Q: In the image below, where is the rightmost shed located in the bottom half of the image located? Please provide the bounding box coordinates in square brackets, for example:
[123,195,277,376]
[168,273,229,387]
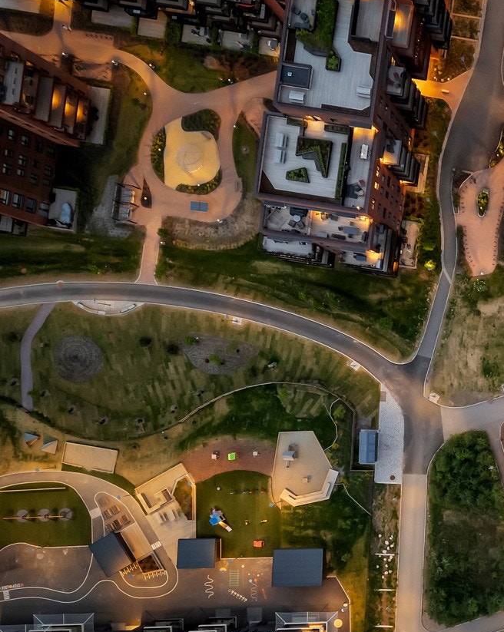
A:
[359,429,384,463]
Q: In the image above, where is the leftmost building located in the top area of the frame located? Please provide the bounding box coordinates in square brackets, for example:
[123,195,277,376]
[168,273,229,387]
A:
[0,34,112,237]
